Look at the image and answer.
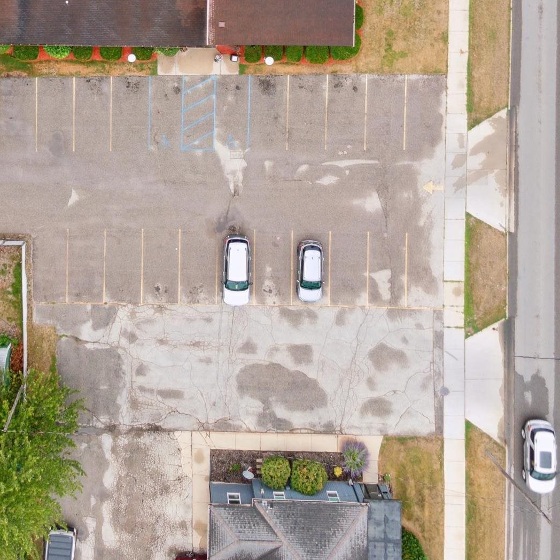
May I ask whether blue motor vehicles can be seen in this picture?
No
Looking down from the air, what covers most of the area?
paved ground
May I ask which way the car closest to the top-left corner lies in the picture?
vertically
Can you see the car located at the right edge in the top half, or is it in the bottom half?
bottom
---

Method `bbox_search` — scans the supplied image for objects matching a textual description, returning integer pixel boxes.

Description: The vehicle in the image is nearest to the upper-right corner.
[296,240,328,302]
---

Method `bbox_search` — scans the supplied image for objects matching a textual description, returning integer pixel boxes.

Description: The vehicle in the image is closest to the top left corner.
[220,233,253,306]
